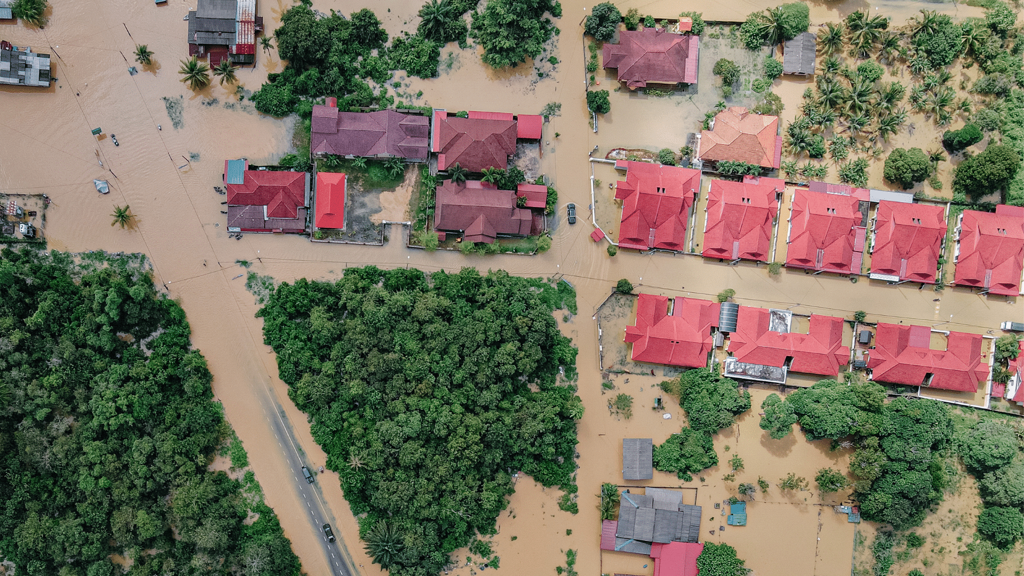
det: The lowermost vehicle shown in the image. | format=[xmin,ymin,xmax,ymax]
[322,523,335,542]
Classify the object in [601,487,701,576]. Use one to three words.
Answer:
house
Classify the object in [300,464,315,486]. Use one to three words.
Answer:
vehicle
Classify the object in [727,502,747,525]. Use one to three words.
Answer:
shed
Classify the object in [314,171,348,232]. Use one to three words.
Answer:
building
